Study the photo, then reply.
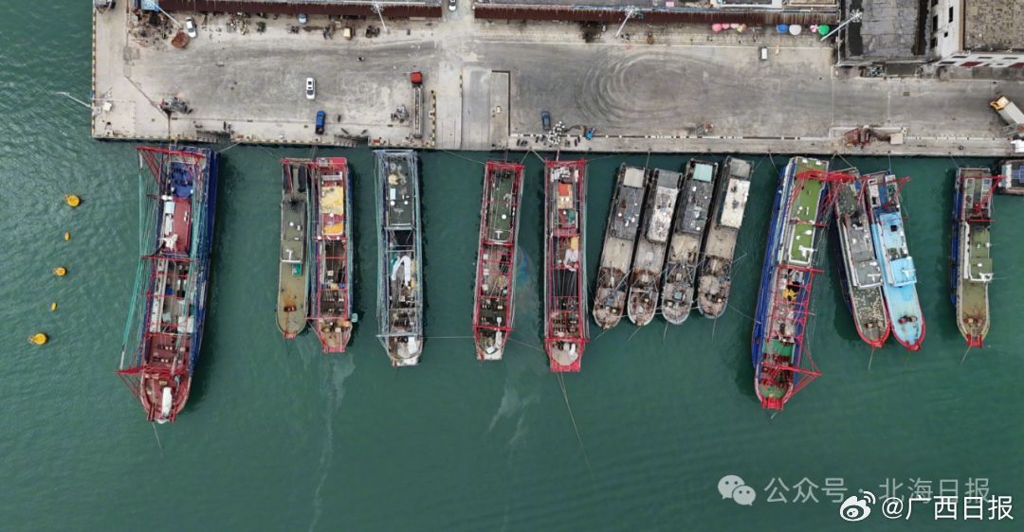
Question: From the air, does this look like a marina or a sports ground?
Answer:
marina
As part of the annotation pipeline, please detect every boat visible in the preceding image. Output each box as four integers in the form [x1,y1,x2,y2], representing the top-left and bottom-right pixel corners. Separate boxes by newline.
[855,170,925,350]
[533,150,648,476]
[626,169,682,326]
[829,155,889,369]
[988,160,1024,197]
[751,153,860,422]
[695,153,775,332]
[939,156,1007,364]
[255,146,316,338]
[446,150,547,361]
[114,139,235,445]
[304,147,359,353]
[372,147,466,366]
[588,154,650,330]
[657,161,718,337]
